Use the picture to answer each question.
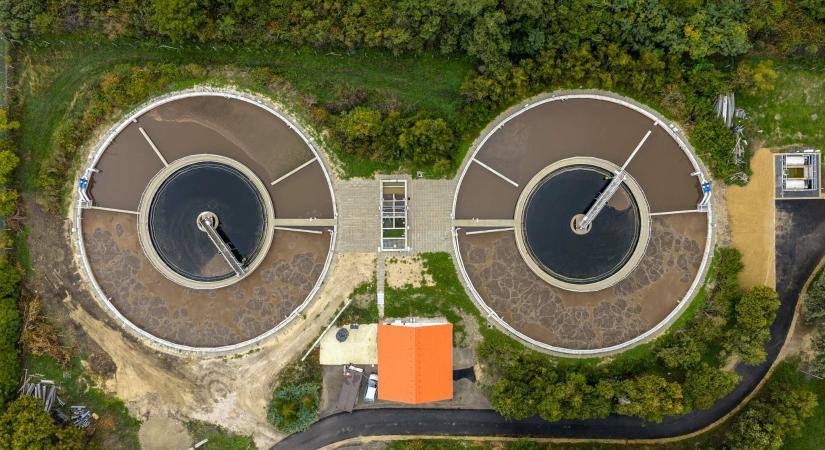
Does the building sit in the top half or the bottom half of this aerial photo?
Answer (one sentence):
It is in the bottom half that the building appears.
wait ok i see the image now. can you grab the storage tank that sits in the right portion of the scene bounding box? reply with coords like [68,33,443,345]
[447,89,720,359]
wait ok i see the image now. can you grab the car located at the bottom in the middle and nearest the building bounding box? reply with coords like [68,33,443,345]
[364,375,377,403]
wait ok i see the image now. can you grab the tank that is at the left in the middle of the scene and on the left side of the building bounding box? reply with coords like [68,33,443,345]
[72,85,343,356]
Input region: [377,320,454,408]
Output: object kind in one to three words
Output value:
building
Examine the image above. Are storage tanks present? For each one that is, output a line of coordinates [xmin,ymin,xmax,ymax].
[72,85,343,356]
[447,89,720,359]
